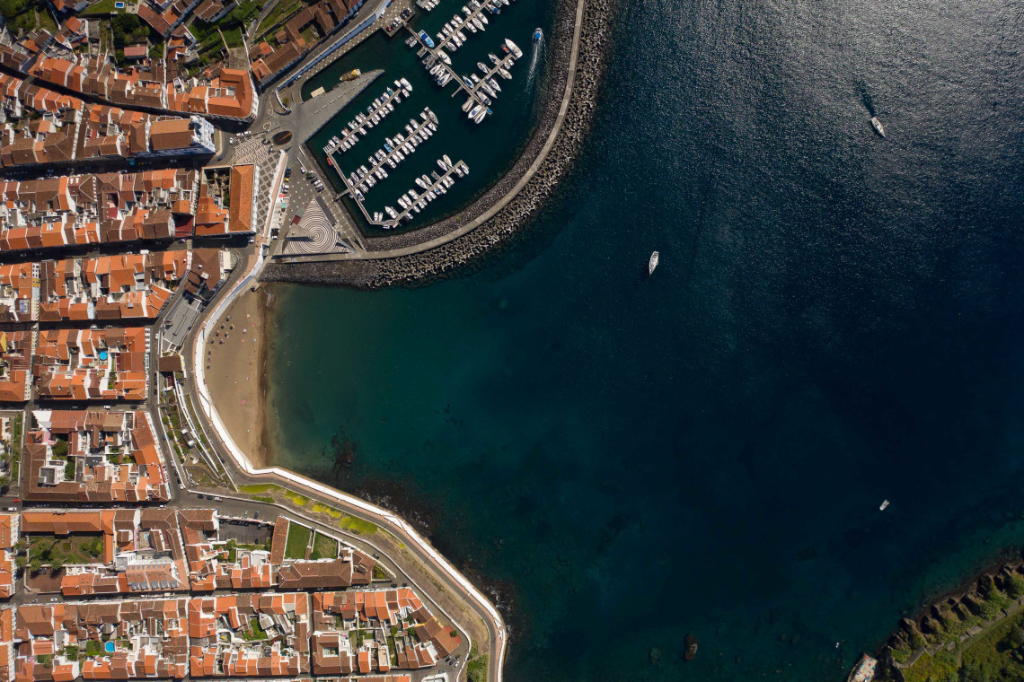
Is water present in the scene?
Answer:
Yes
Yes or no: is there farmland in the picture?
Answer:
No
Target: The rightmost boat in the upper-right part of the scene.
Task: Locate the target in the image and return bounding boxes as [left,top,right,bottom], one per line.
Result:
[870,116,887,135]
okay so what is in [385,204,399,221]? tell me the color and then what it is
white boat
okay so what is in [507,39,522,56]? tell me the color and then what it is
white boat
